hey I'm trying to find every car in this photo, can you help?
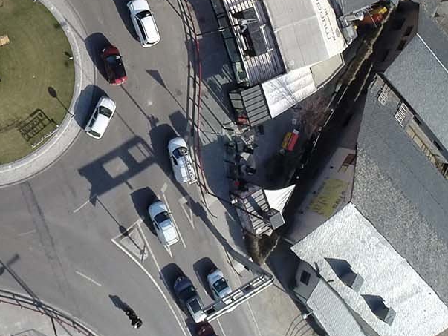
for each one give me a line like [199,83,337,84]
[83,94,117,142]
[202,263,234,306]
[166,136,197,189]
[147,198,180,250]
[127,0,159,48]
[170,270,210,327]
[99,43,129,88]
[186,315,213,336]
